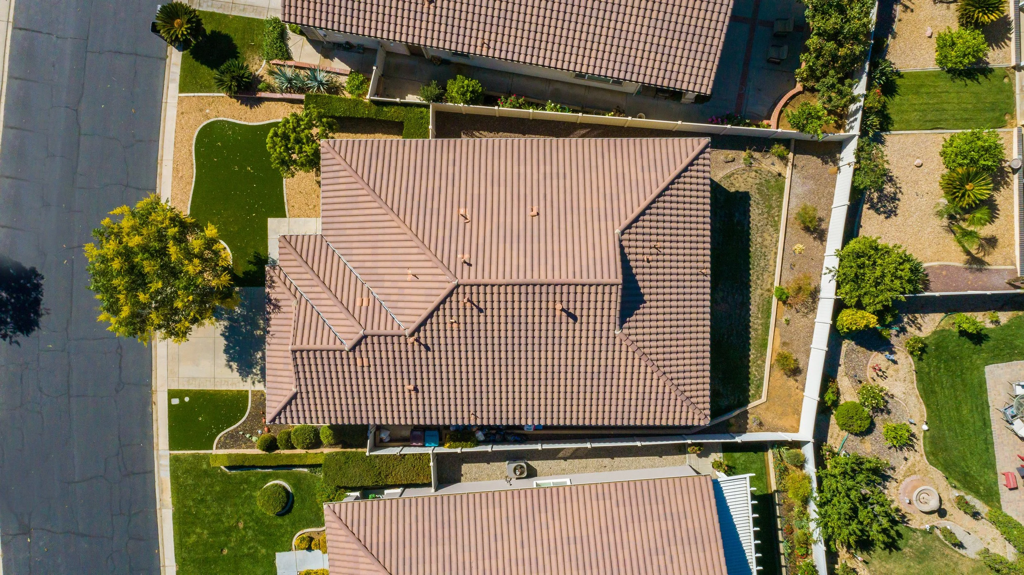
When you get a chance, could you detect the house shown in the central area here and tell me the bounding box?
[262,135,714,428]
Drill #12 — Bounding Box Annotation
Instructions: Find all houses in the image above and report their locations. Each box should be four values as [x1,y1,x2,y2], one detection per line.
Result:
[262,135,714,428]
[280,0,736,105]
[320,468,731,575]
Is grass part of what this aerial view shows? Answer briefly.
Yes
